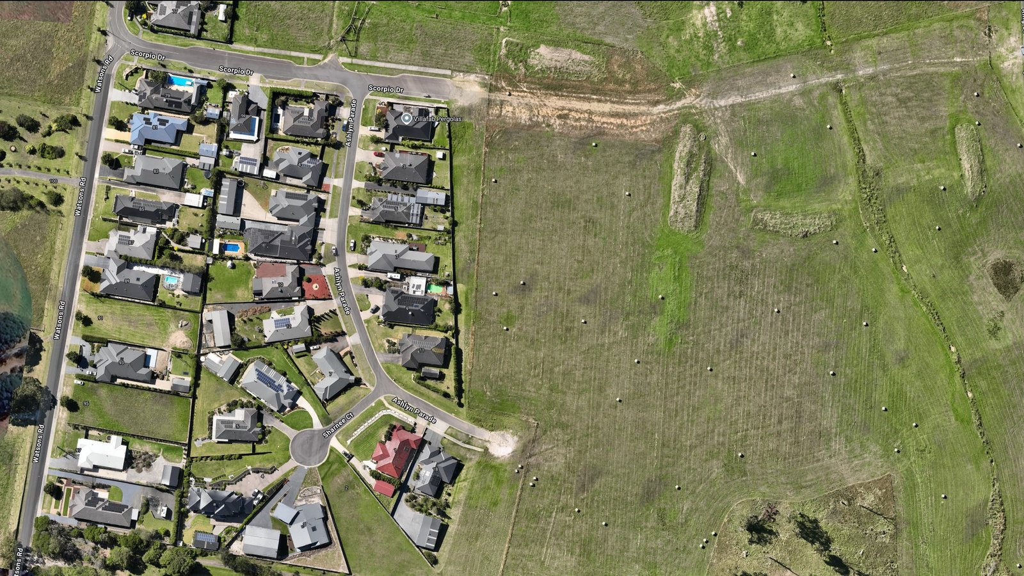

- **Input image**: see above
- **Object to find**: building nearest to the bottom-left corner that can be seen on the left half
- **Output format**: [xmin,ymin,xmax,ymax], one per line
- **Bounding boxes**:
[66,487,139,527]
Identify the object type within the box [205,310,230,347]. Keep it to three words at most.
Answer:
shed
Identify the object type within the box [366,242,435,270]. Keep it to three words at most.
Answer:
house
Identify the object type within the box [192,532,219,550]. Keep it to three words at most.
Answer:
shed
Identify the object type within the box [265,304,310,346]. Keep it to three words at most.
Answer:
house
